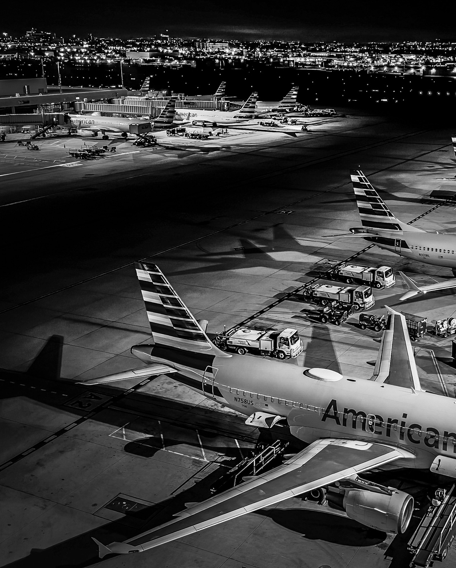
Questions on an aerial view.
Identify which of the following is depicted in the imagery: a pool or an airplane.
airplane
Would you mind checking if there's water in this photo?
No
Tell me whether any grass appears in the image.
No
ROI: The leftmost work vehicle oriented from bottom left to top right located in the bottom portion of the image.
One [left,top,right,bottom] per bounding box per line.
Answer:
[194,422,285,499]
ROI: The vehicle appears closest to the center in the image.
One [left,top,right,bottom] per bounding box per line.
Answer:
[222,314,301,359]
